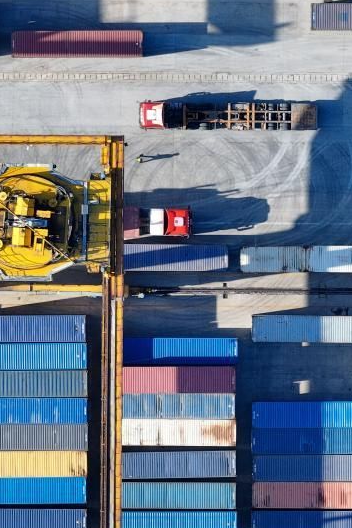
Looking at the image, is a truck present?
Yes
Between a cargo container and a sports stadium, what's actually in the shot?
cargo container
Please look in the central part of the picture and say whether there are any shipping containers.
Yes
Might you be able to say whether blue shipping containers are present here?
Yes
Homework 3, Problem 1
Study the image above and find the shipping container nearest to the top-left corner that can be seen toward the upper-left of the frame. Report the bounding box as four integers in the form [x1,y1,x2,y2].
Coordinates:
[12,30,143,57]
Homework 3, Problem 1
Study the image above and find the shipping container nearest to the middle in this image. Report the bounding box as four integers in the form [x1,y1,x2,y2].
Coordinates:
[123,244,228,271]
